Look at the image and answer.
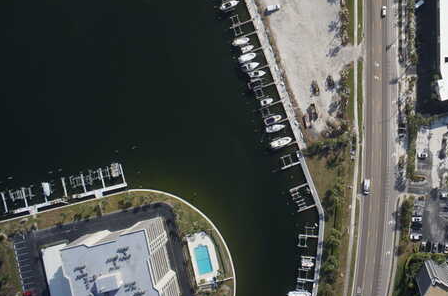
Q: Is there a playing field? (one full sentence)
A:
No, I can't see a single playing field in this photo.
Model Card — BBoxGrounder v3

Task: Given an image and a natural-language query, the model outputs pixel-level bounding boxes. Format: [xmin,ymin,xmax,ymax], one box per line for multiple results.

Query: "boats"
[238,53,257,62]
[220,1,239,11]
[260,98,274,106]
[264,115,282,126]
[241,62,260,70]
[110,163,119,178]
[301,260,313,267]
[241,46,255,53]
[265,124,286,133]
[42,182,50,197]
[270,137,293,149]
[248,69,267,77]
[232,36,251,46]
